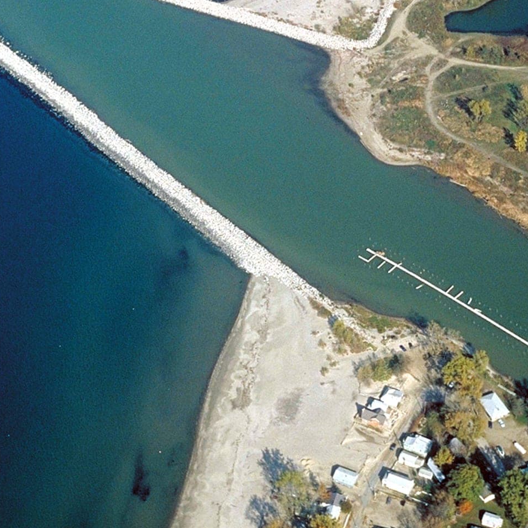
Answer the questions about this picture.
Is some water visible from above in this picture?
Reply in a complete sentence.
Yes, water shows up in the scene.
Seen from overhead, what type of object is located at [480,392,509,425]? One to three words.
house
